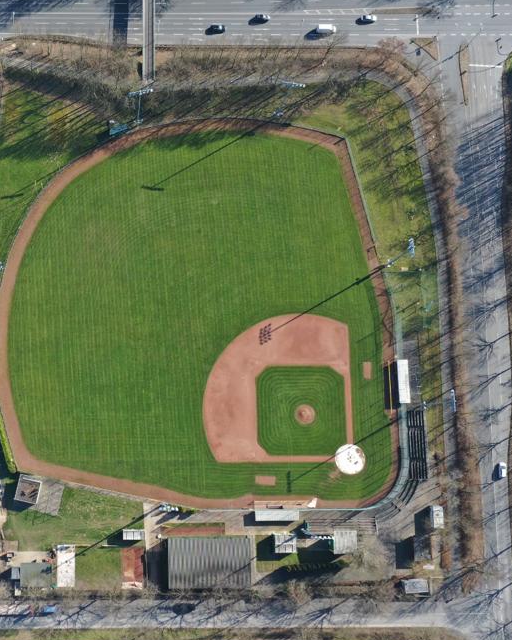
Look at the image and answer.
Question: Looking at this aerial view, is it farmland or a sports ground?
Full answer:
The area seen from above is a sports ground.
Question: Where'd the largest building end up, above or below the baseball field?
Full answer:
Looking at the scene, the largest building is located below the baseball field.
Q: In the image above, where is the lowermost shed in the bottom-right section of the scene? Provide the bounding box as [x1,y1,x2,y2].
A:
[402,579,429,593]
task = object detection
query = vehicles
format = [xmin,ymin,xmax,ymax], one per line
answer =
[361,14,375,21]
[211,25,224,32]
[40,605,56,613]
[496,462,506,478]
[317,23,335,33]
[254,14,268,21]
